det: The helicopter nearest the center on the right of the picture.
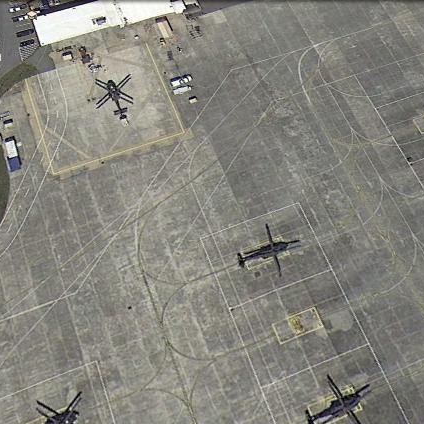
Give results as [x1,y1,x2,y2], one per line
[235,224,297,270]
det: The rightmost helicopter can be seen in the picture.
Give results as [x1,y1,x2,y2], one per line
[298,380,365,424]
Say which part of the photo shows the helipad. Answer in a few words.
top left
